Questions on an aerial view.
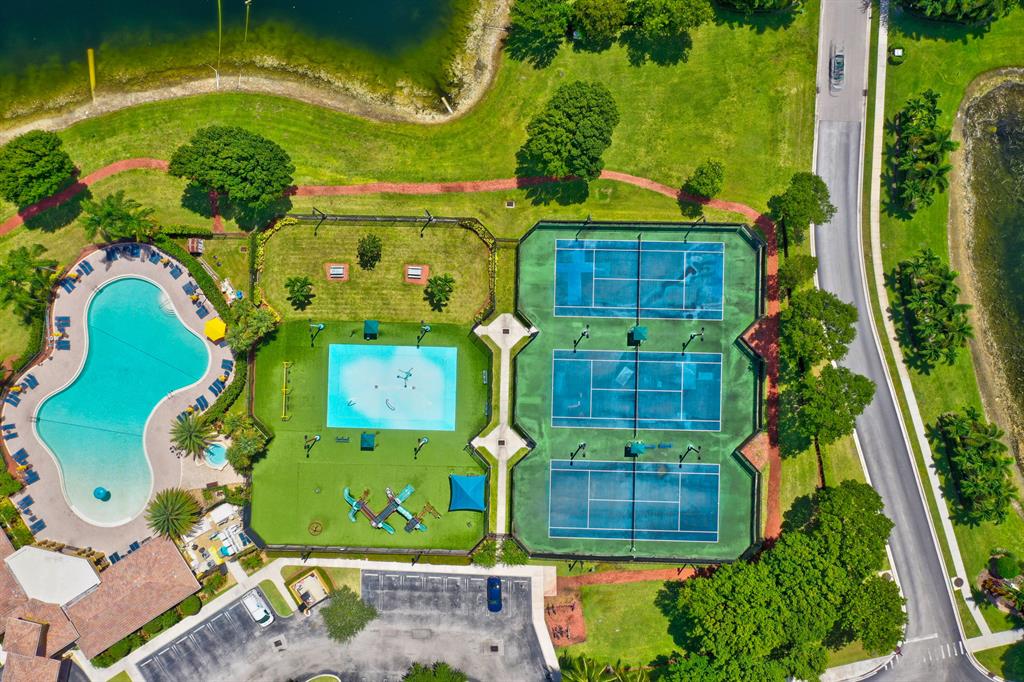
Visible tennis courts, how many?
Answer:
3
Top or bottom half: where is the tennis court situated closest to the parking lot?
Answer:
bottom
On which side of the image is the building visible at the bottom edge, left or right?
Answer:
left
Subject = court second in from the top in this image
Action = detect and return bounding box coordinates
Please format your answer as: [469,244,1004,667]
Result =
[551,345,722,437]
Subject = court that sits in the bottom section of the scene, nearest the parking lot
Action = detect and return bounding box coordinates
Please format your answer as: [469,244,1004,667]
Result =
[549,455,720,549]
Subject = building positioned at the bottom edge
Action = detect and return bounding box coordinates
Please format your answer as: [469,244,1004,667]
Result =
[0,517,200,682]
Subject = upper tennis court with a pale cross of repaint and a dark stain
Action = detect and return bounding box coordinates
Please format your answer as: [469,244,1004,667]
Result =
[554,233,725,325]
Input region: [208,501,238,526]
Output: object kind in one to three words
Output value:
shed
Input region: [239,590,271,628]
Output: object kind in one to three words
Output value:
car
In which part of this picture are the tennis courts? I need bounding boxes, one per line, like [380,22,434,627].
[549,455,720,549]
[551,345,722,437]
[554,233,725,325]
